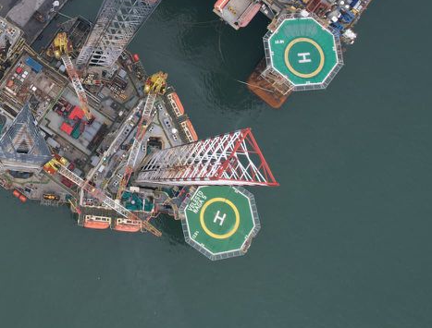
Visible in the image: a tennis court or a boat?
boat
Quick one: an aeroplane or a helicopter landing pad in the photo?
helicopter landing pad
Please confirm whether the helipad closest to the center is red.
No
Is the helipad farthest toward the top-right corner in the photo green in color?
Yes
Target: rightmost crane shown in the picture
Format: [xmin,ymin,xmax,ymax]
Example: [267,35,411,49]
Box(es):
[114,68,166,208]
